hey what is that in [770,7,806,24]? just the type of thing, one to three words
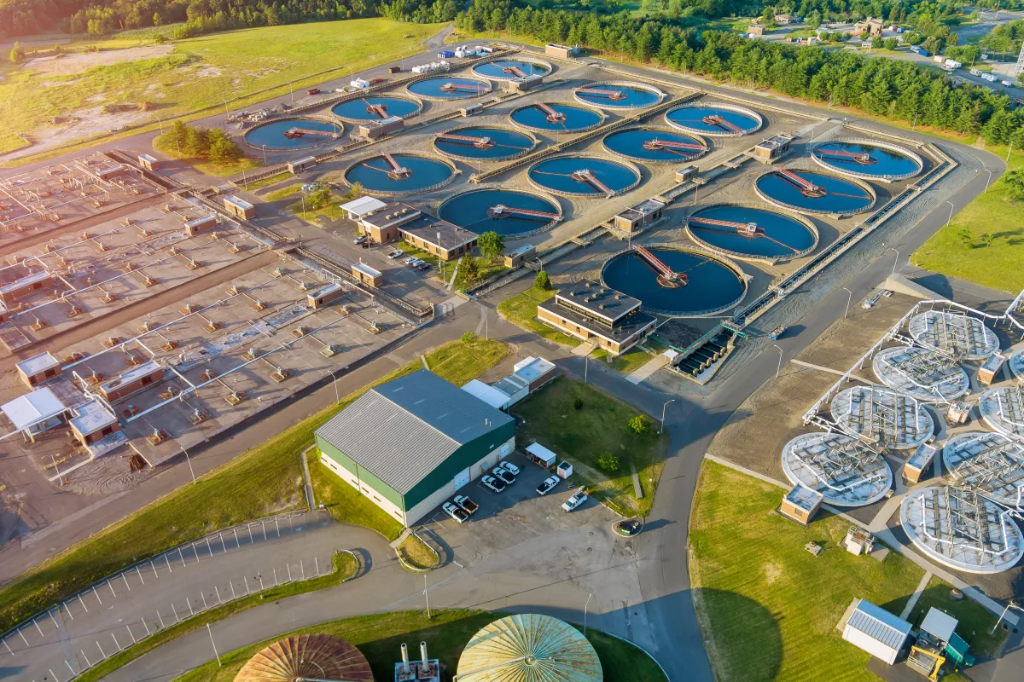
house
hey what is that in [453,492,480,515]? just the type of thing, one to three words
truck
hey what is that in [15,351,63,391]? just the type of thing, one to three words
shed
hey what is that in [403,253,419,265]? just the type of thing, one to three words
vehicle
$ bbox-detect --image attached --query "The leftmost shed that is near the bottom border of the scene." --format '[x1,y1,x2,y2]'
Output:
[842,598,913,665]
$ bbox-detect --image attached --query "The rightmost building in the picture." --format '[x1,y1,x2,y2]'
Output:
[974,352,1006,383]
